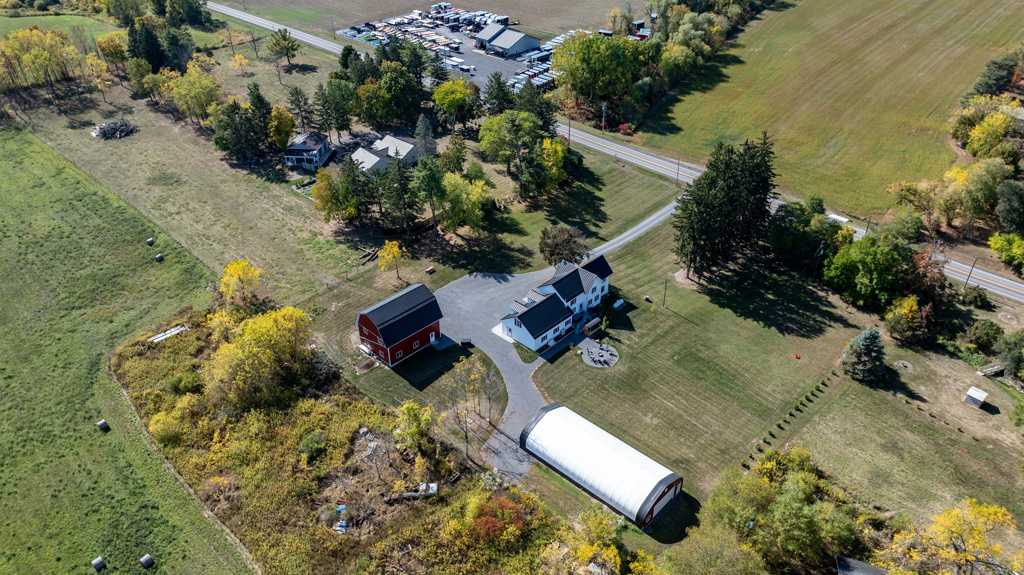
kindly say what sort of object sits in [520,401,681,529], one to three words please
building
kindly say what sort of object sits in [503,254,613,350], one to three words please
house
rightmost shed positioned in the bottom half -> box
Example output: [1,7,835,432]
[965,386,992,408]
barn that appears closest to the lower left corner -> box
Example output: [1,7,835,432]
[354,283,443,367]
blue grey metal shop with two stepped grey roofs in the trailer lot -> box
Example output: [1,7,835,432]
[475,23,539,59]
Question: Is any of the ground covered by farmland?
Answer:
Yes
